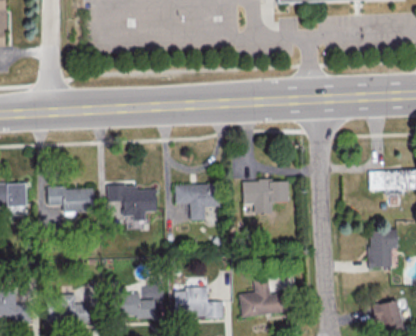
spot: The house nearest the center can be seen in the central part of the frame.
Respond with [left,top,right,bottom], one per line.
[175,184,218,221]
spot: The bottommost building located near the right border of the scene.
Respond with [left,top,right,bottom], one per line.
[373,300,404,328]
